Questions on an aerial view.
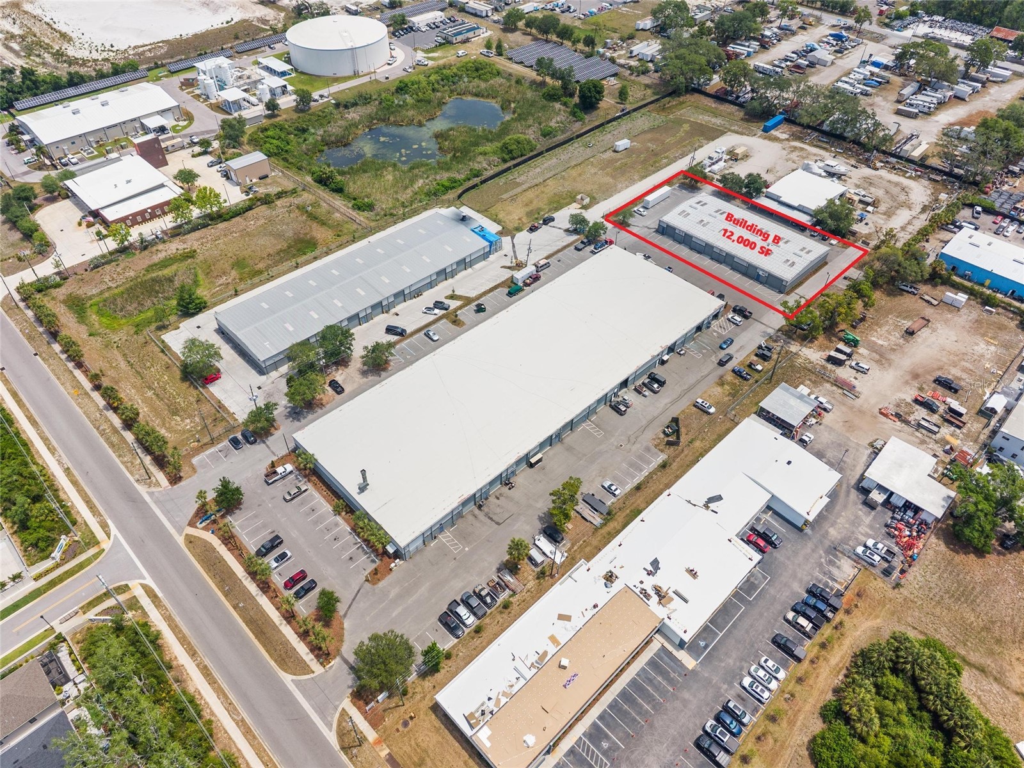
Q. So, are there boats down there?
Yes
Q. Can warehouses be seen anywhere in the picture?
Yes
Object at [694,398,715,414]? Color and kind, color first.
gray car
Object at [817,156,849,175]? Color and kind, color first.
white boat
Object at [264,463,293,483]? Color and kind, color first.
white vehicle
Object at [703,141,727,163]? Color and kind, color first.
white boat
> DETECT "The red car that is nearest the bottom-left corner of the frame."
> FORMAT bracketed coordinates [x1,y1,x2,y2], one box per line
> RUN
[282,569,308,591]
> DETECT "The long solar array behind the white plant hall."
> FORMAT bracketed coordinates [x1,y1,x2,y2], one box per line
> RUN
[12,67,150,111]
